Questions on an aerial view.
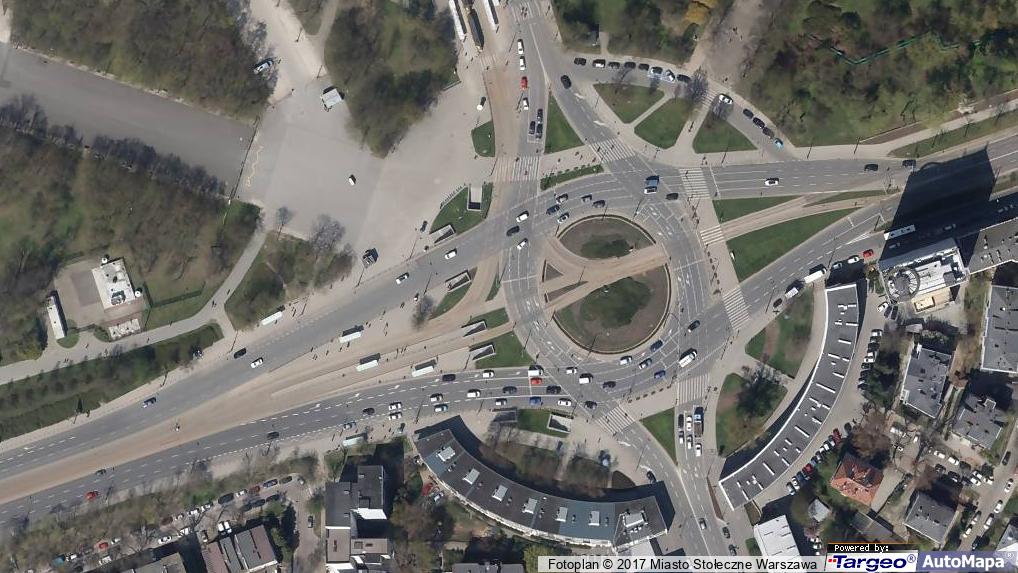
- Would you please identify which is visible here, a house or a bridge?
house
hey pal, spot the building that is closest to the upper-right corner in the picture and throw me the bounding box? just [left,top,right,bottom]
[968,217,1018,276]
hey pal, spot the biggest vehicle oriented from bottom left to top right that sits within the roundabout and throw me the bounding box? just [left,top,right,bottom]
[678,351,698,366]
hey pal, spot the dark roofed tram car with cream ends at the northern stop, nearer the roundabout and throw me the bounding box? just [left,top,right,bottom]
[467,8,484,49]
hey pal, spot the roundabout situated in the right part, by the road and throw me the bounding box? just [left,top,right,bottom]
[502,158,735,420]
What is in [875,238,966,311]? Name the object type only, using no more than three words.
building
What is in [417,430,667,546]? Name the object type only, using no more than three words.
building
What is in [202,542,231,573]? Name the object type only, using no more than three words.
house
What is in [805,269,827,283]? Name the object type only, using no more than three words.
vehicle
